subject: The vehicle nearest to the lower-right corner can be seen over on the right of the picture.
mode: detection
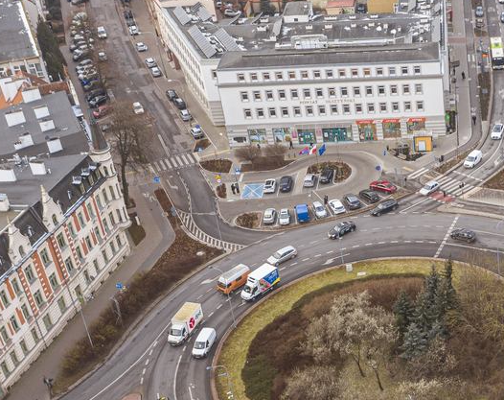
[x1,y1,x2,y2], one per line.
[447,226,479,242]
